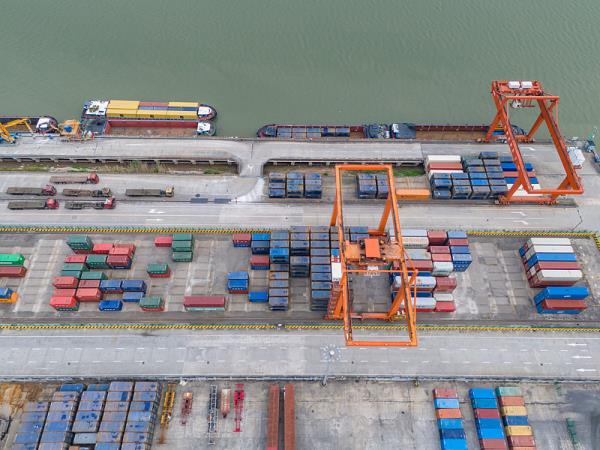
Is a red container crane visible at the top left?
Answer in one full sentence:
No, the scene shows no red container crane at the top left.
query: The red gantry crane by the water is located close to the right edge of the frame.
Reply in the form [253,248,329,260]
[479,78,585,204]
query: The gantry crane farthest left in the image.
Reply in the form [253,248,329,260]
[327,166,419,347]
